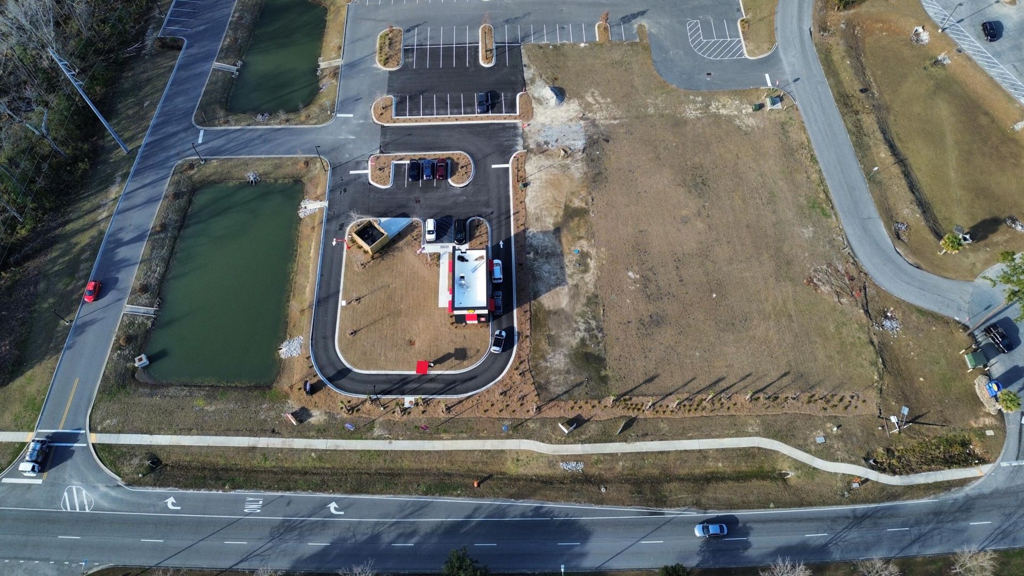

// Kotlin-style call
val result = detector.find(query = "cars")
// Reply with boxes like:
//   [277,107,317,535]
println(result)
[453,219,467,245]
[491,329,507,357]
[492,262,504,286]
[408,161,420,182]
[423,219,436,243]
[478,93,489,114]
[436,160,447,180]
[695,523,730,540]
[984,21,1001,40]
[82,278,102,304]
[422,161,433,180]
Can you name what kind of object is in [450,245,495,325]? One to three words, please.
building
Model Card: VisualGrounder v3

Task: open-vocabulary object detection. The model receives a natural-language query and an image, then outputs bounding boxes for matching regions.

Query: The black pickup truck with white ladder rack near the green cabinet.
[985,321,1018,356]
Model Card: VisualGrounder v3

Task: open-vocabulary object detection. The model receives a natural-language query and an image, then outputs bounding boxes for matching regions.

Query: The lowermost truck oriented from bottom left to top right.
[17,430,59,480]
